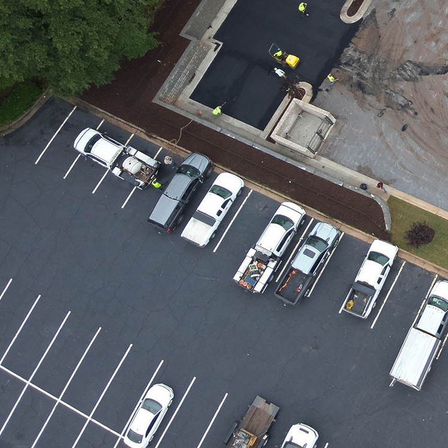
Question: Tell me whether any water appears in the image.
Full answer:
No, there is no water in the image.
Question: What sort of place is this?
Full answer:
This looks like a parking lot.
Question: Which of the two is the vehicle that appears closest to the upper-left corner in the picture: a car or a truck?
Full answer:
I'd say the vehicle that appears closest to the upper-left corner is a truck.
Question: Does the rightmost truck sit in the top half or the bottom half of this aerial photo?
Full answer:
The rightmost truck is in the bottom half of the image.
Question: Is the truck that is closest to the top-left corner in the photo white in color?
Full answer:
Yes, the truck that is closest to the top-left corner is white.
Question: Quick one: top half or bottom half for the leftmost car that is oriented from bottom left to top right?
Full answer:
It is in the bottom half that the leftmost car that is oriented from bottom left to top right appears.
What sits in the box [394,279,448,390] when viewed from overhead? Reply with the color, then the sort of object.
white truck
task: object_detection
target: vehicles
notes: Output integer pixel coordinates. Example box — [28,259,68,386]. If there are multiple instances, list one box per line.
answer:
[184,173,247,251]
[146,152,214,234]
[276,221,341,308]
[238,202,307,293]
[262,35,304,70]
[394,279,448,390]
[121,381,176,448]
[283,423,320,448]
[72,128,162,195]
[344,239,399,323]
